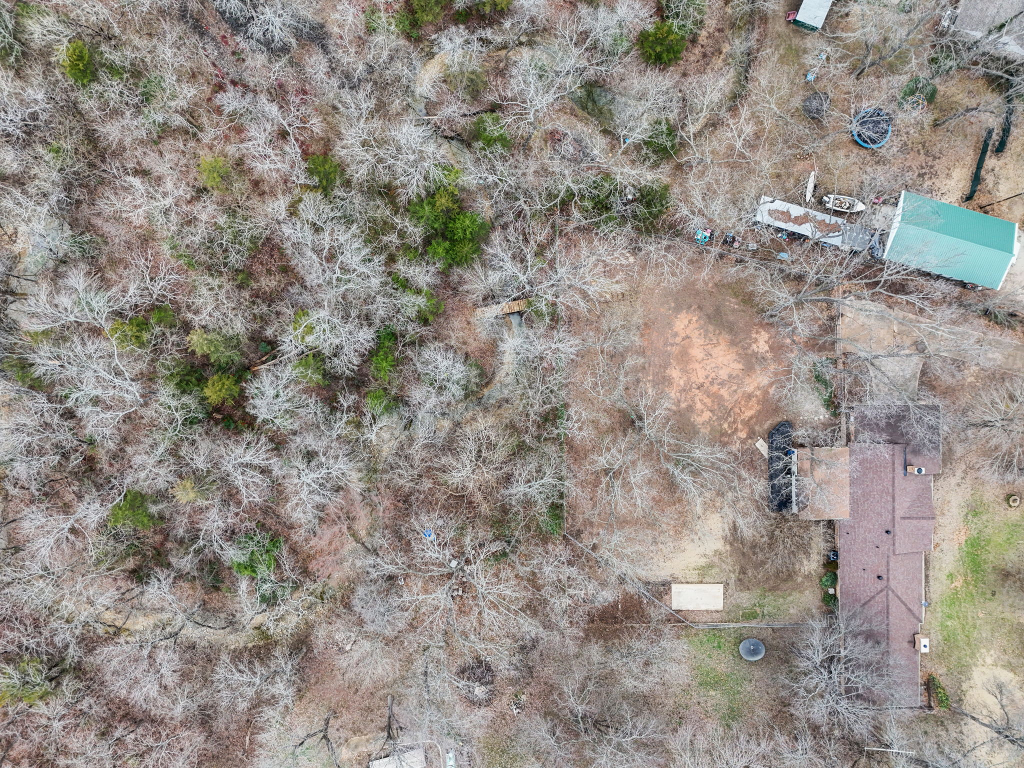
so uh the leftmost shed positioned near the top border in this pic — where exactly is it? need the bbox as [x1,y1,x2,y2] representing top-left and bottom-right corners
[791,0,832,35]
